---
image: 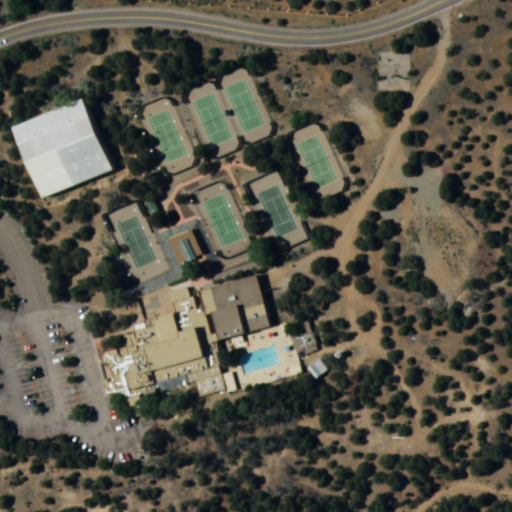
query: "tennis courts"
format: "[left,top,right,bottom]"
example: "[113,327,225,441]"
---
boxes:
[220,69,270,142]
[188,83,238,156]
[142,100,194,172]
[108,204,169,282]
[292,125,343,198]
[198,184,249,256]
[249,172,308,246]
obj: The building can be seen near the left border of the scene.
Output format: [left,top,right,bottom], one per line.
[12,99,115,198]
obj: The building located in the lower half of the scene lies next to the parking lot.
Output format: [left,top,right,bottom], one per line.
[104,276,270,408]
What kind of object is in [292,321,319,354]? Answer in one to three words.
building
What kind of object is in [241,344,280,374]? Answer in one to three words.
swimming pool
